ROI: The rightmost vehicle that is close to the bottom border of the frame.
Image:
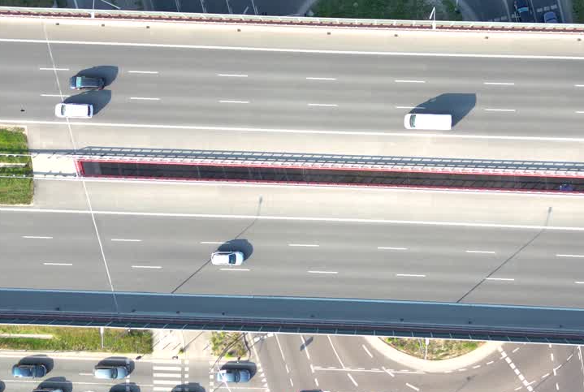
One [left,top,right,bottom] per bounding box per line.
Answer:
[218,368,251,384]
